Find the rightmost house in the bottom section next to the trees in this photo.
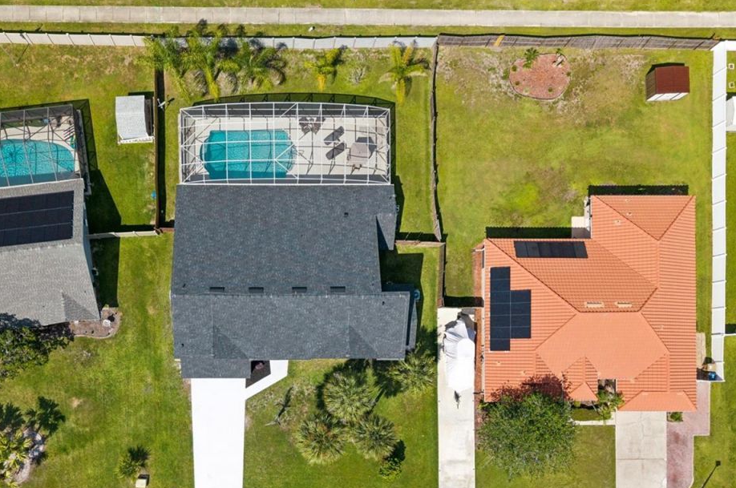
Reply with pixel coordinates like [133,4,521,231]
[473,194,697,412]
